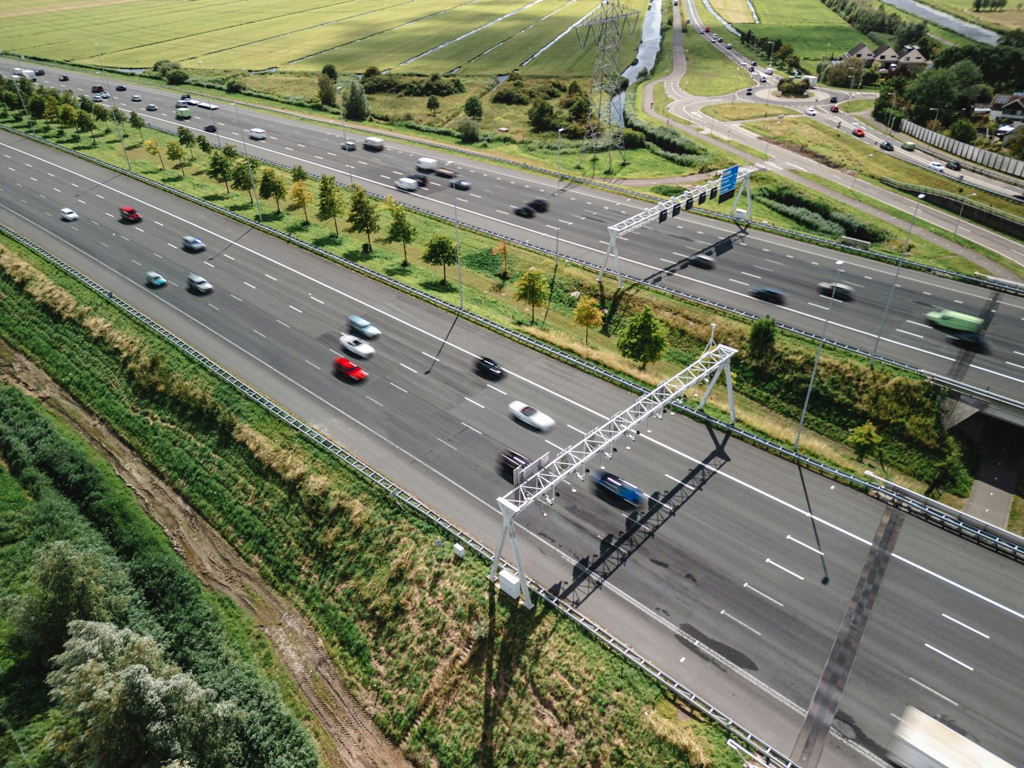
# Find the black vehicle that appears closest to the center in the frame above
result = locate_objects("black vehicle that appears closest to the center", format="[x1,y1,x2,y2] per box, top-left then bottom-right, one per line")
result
[472,355,507,380]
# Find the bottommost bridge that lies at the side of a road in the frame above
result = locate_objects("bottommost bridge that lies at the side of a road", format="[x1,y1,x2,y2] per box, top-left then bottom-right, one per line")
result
[858,483,1024,573]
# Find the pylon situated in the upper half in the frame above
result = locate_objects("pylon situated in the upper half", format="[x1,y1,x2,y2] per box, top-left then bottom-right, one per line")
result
[576,0,638,173]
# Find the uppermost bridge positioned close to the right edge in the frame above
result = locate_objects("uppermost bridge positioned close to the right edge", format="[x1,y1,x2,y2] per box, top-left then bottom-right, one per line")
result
[930,378,1024,468]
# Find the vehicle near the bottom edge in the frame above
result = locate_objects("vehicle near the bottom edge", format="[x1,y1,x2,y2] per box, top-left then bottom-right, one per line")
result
[878,709,1007,768]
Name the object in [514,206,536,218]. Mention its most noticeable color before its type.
black vehicle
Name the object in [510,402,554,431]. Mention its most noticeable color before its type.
white car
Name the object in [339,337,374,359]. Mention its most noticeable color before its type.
white car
